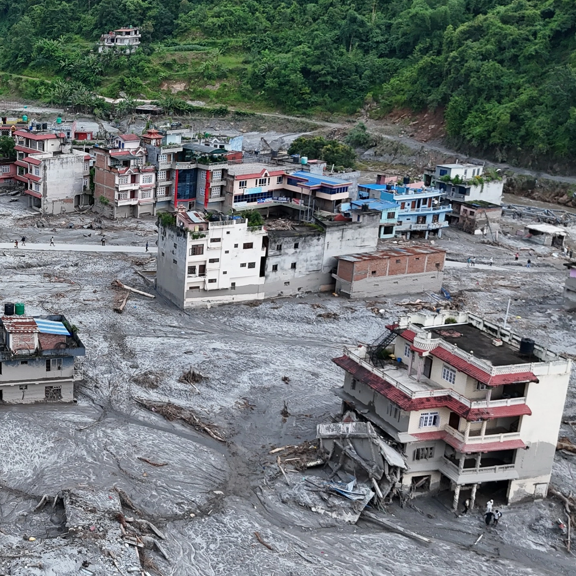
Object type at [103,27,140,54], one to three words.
house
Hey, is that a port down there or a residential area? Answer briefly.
residential area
